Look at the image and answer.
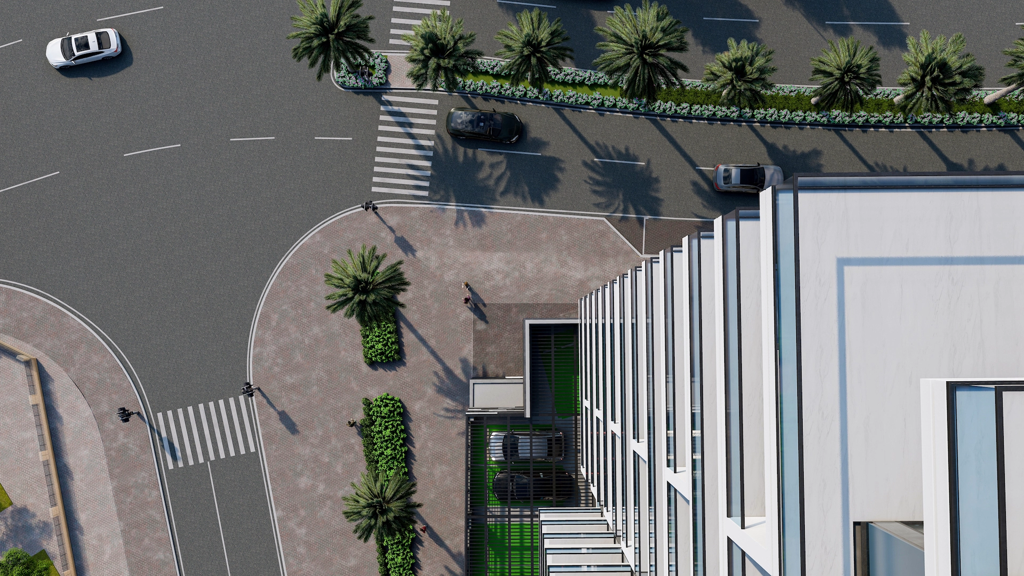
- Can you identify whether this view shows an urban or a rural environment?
urban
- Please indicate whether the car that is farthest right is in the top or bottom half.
top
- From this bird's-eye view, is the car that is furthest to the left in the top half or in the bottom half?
top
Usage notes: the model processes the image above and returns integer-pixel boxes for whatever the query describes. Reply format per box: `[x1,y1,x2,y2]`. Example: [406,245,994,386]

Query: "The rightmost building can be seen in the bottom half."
[538,169,1024,576]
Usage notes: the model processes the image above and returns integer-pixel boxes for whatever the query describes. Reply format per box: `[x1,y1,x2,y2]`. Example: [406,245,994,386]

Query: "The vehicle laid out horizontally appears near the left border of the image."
[47,30,124,70]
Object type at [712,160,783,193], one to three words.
car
